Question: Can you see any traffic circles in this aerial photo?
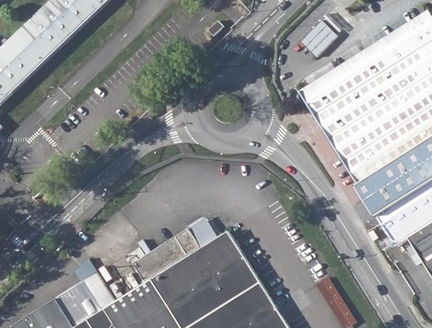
Yes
